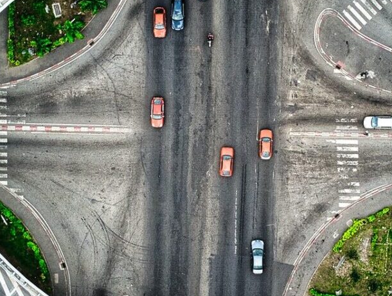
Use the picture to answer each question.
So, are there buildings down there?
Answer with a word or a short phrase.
No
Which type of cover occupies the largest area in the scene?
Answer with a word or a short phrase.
paved ground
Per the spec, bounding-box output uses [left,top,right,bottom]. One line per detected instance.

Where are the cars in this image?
[150,97,164,128]
[259,129,273,160]
[365,115,392,129]
[169,0,185,31]
[250,240,267,275]
[220,147,234,179]
[151,7,166,38]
